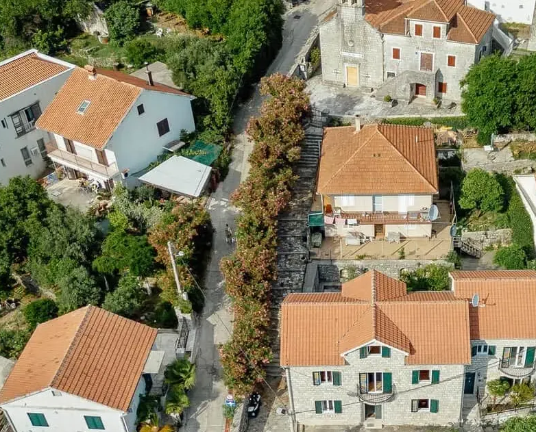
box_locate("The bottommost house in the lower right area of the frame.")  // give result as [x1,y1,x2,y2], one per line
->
[281,259,536,432]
